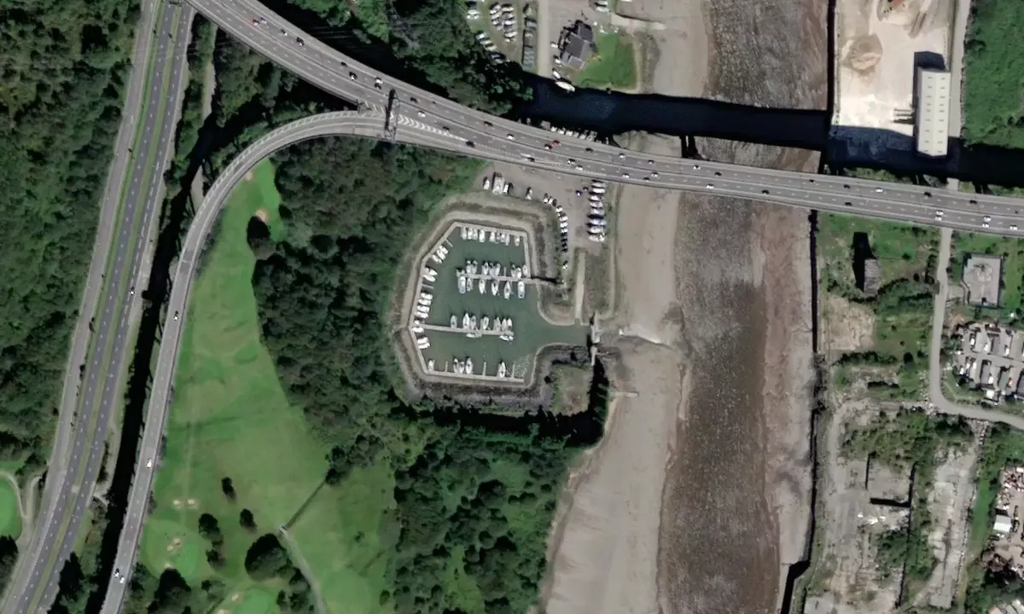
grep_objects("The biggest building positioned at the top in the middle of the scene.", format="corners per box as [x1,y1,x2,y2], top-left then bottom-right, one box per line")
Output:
[556,23,595,71]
